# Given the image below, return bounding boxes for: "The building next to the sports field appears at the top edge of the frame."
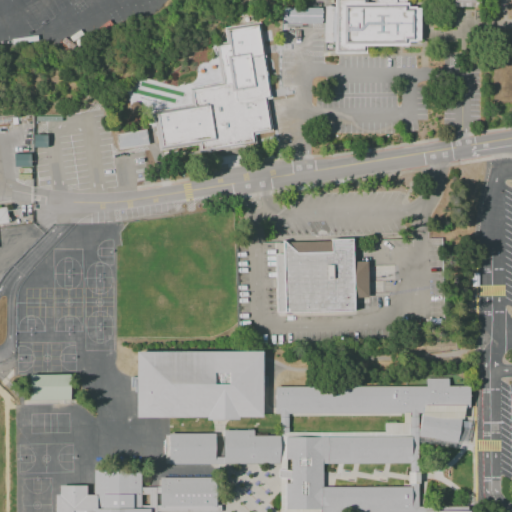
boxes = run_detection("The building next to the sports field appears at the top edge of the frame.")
[157,22,274,151]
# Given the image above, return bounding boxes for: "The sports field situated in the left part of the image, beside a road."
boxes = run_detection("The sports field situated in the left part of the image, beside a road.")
[117,212,236,337]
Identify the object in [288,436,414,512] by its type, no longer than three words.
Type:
building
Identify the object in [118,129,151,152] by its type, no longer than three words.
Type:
building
